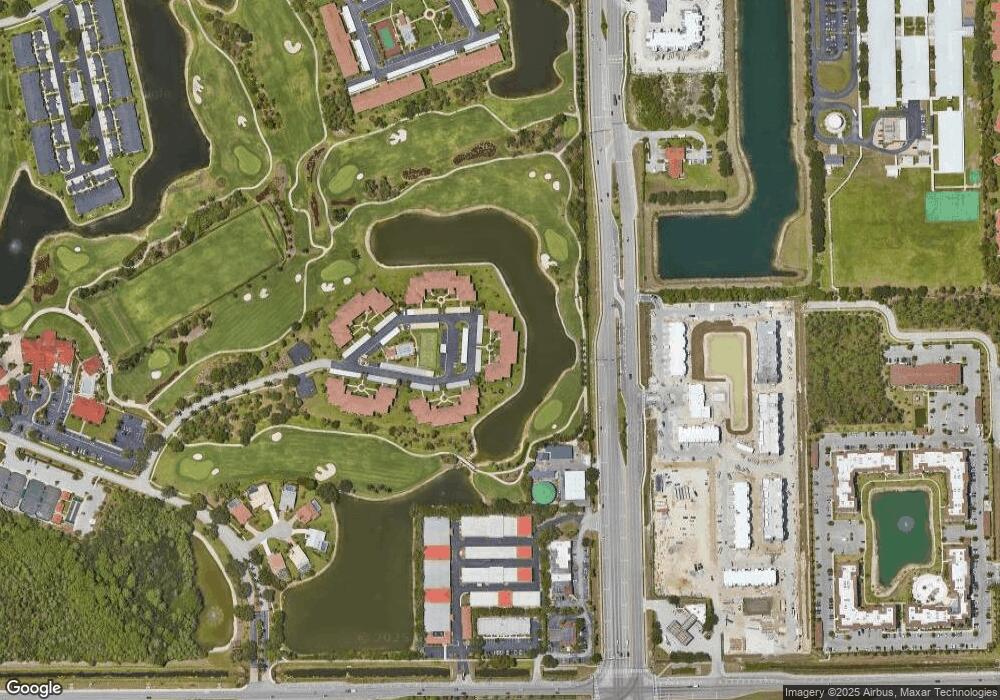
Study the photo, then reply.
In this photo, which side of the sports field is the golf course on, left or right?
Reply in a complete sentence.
The sports field has the golf course on its left side.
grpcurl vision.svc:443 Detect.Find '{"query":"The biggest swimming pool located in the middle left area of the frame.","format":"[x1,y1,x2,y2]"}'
[78,373,99,398]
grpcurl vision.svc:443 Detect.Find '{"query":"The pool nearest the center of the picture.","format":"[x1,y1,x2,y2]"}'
[394,342,415,359]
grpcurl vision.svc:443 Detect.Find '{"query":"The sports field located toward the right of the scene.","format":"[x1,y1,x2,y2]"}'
[830,174,981,287]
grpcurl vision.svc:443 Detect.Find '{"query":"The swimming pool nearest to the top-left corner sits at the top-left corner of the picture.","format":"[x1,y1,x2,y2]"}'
[69,72,84,103]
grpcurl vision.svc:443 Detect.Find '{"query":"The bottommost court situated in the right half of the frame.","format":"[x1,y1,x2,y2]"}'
[925,191,979,222]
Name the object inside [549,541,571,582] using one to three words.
building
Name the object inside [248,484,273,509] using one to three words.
house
